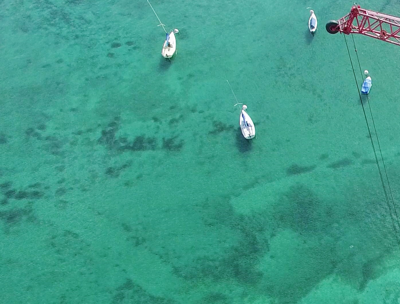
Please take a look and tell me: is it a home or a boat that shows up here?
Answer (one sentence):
Of the two, only a boat appears.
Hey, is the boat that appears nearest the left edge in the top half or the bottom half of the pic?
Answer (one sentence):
The top half of the photo is where the boat that appears nearest the left edge is.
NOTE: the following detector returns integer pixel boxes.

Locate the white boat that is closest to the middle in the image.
[228,85,254,145]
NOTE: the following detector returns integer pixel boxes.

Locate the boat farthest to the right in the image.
[360,77,372,98]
